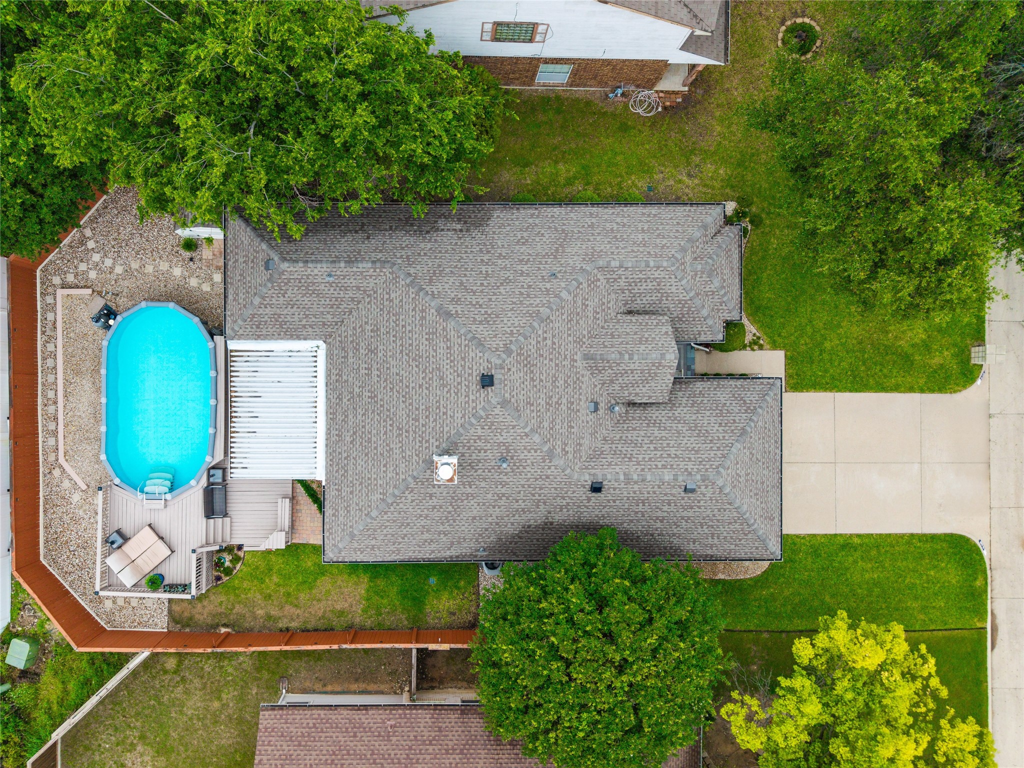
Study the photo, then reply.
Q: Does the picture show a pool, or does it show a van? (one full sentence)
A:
Of the two, only a pool appears.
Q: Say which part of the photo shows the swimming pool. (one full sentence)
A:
Look in the left portion of the view to spot the swimming pool.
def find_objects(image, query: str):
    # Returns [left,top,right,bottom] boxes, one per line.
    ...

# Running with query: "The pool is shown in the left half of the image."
[100,301,217,499]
